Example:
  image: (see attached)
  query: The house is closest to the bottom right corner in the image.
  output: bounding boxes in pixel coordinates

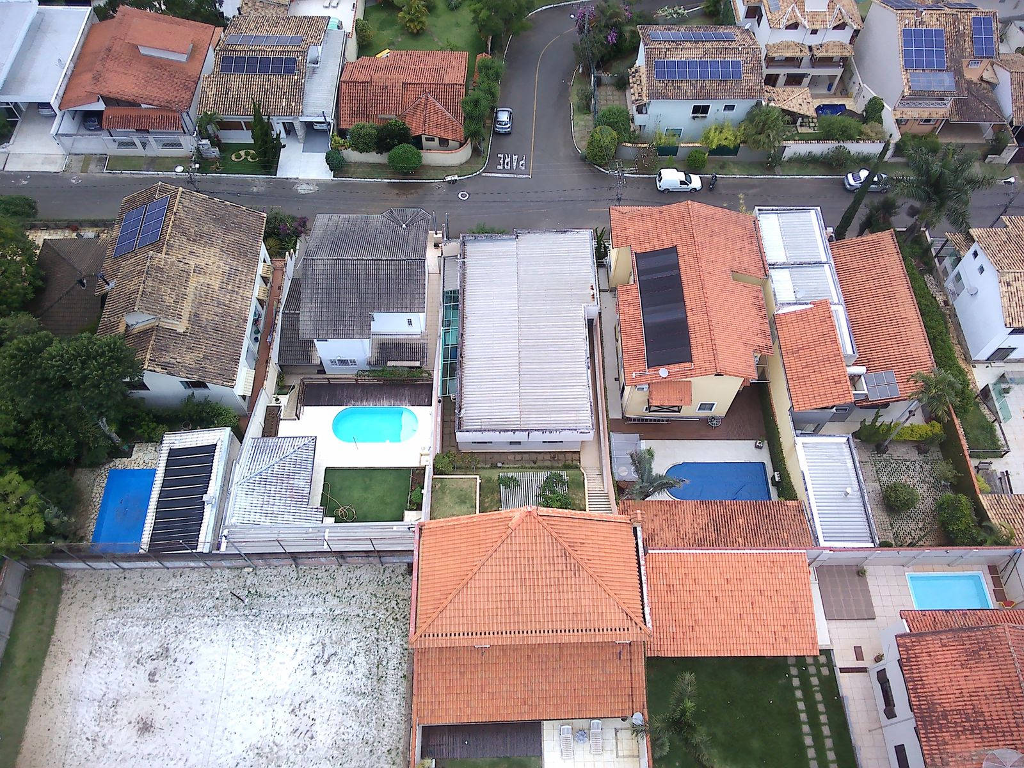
[871,608,1024,768]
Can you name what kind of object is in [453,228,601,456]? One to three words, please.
building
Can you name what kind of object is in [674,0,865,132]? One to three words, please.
house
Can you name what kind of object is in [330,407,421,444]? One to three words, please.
swimming pool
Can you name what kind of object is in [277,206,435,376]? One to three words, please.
house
